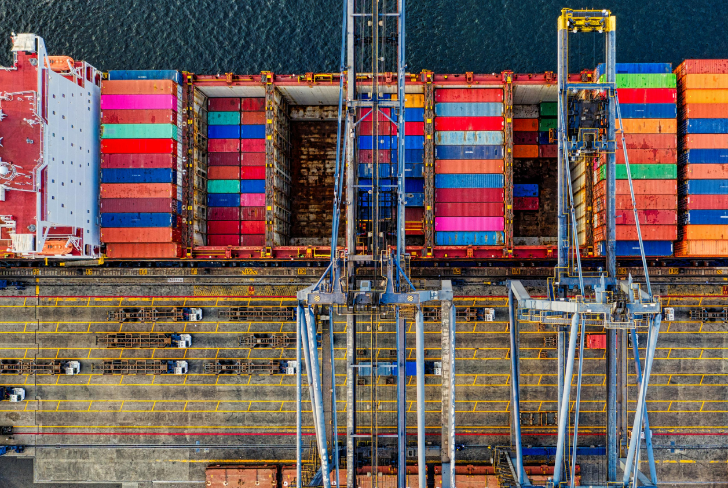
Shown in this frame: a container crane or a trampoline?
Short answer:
container crane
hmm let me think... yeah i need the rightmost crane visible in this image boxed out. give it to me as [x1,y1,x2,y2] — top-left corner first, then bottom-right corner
[479,1,662,488]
